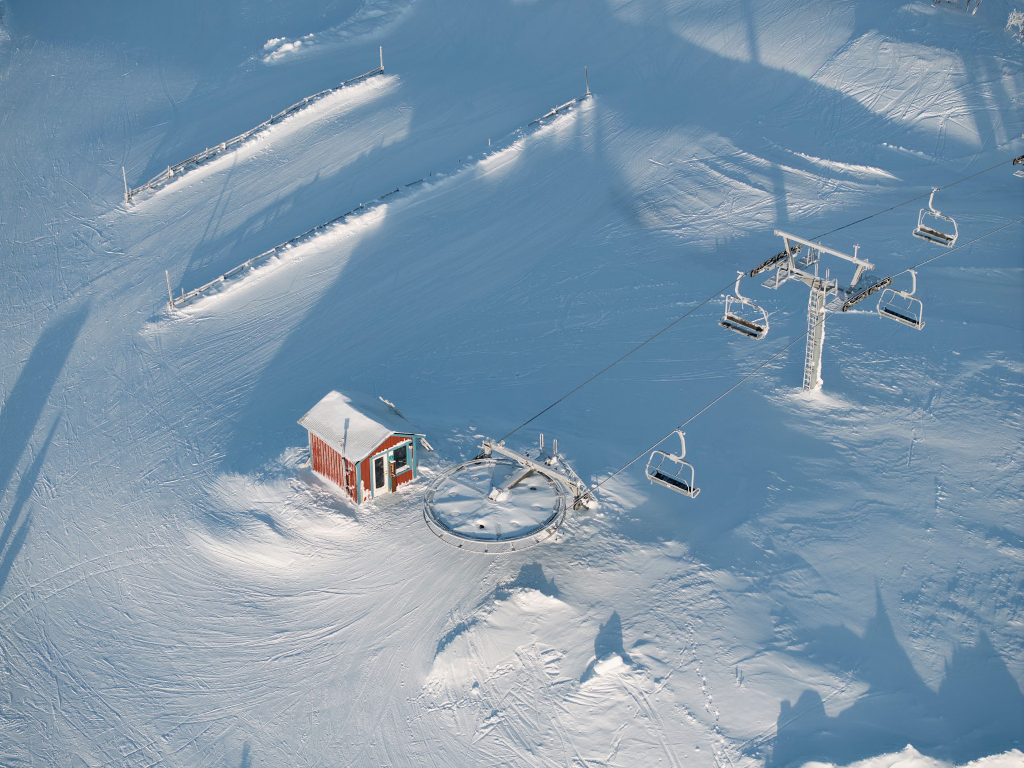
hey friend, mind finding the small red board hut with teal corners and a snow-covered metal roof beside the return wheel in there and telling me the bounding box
[300,388,426,504]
